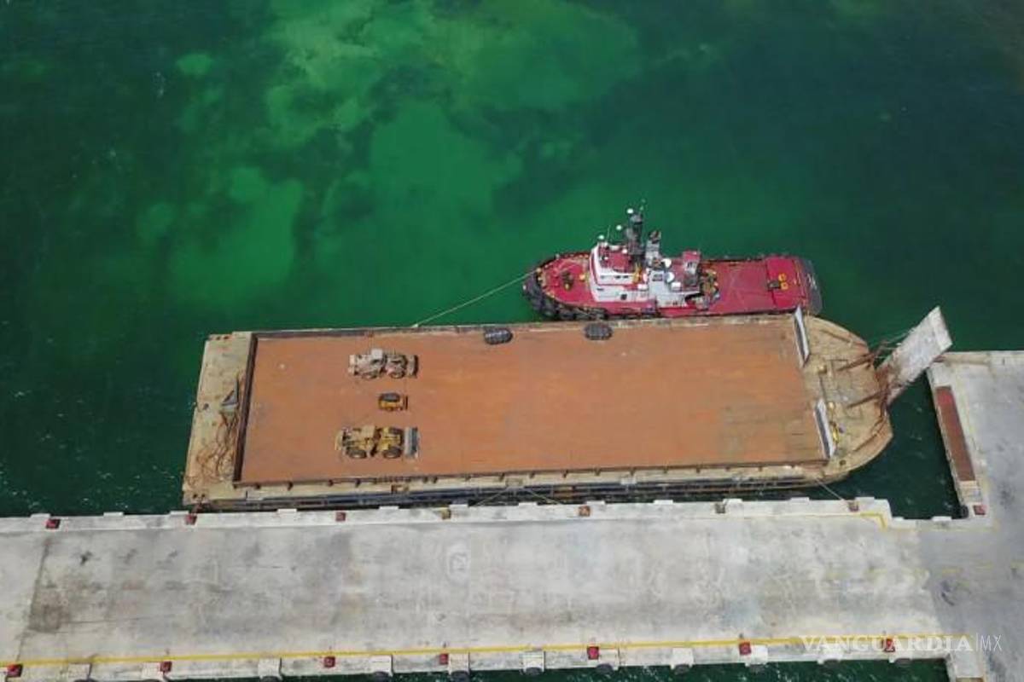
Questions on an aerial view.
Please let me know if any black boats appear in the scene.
No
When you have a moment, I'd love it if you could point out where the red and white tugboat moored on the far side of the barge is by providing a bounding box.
[515,206,822,322]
